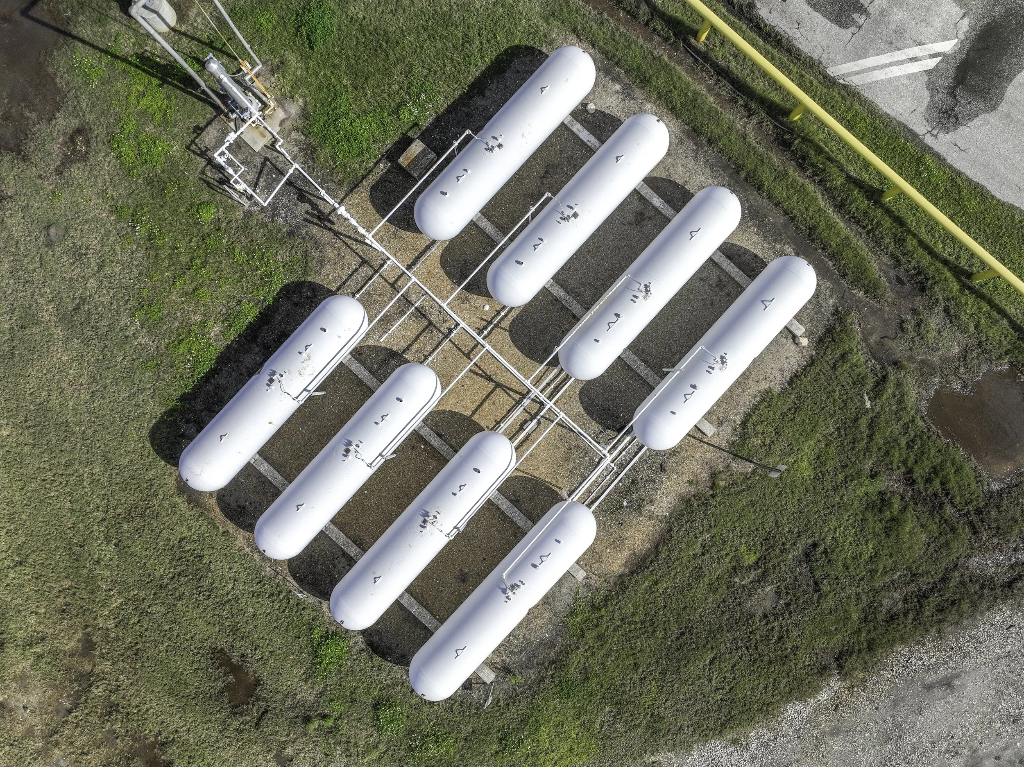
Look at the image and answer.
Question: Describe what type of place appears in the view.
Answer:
industrial area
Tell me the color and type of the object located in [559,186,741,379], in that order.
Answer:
white storage tank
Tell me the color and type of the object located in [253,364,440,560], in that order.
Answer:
white storage tank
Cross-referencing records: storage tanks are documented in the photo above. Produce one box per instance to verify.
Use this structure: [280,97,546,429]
[415,44,594,239]
[488,113,668,306]
[177,296,367,491]
[253,364,440,560]
[409,501,596,703]
[330,431,515,631]
[559,186,741,379]
[633,256,817,449]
